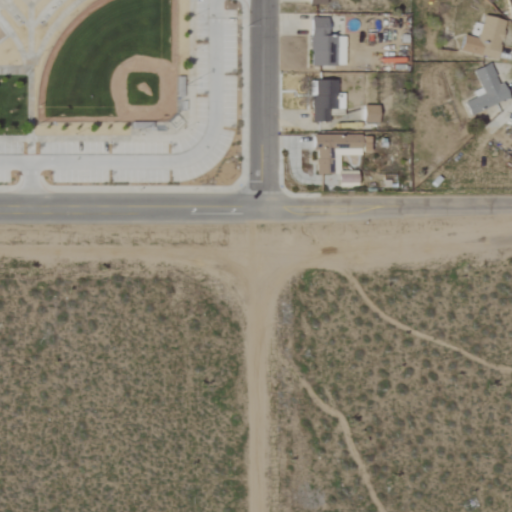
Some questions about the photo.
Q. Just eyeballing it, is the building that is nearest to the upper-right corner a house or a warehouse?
house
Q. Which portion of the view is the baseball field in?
top left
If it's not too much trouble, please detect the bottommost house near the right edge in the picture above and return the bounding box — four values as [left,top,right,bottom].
[468,63,512,114]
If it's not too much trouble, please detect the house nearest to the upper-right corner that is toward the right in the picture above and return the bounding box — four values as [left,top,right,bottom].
[460,13,510,62]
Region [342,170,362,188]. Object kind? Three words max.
building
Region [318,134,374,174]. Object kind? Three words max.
house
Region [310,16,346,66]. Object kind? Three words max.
house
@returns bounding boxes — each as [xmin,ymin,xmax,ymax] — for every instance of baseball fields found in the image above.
[36,0,179,122]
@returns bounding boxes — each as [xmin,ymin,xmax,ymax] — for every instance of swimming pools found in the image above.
[347,17,362,32]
